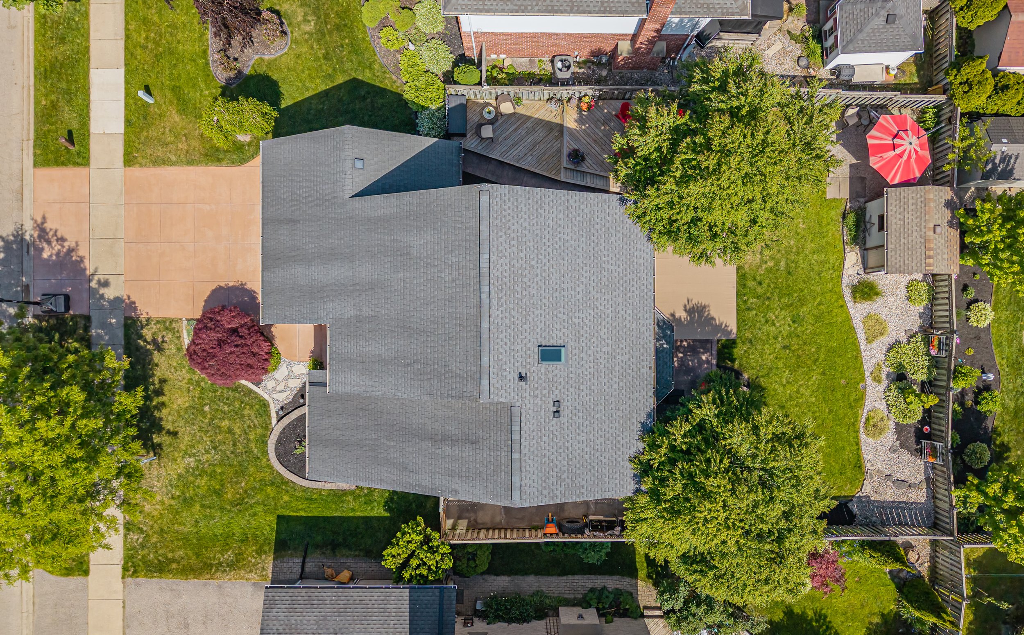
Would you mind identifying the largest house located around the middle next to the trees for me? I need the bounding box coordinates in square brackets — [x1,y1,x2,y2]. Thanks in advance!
[258,127,675,508]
